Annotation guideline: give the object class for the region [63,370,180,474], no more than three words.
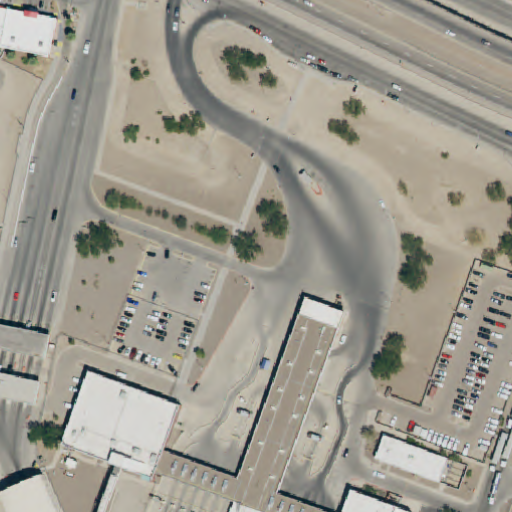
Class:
building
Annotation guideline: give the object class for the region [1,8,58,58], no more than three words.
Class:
building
